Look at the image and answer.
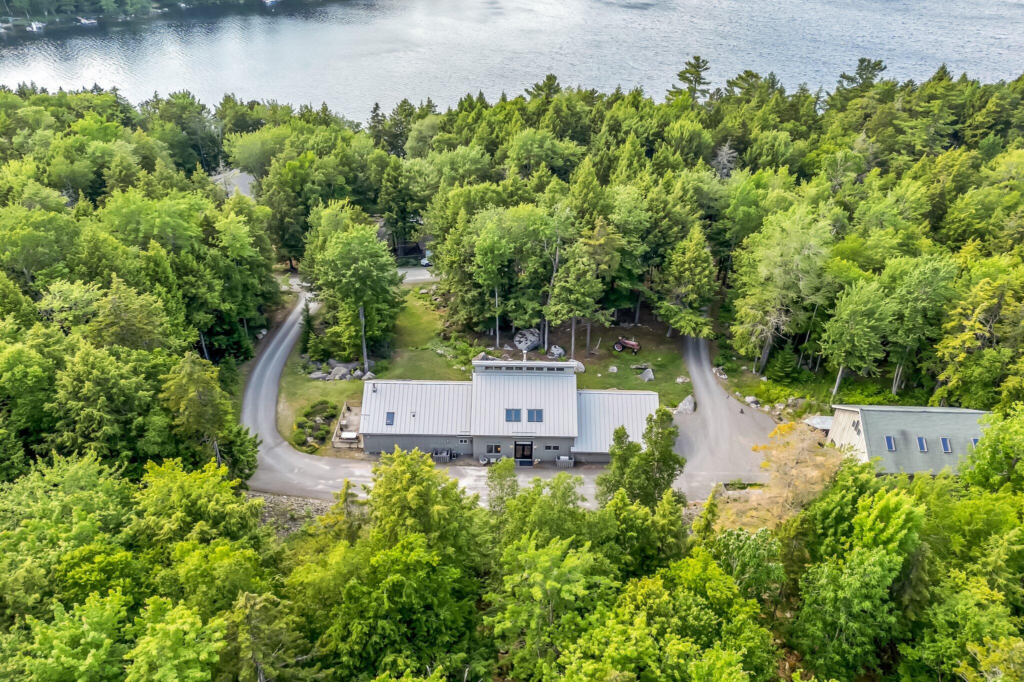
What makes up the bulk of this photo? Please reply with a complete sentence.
For the most part, this view shows trees.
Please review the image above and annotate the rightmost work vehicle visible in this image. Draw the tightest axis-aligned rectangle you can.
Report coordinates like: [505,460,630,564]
[613,336,642,356]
